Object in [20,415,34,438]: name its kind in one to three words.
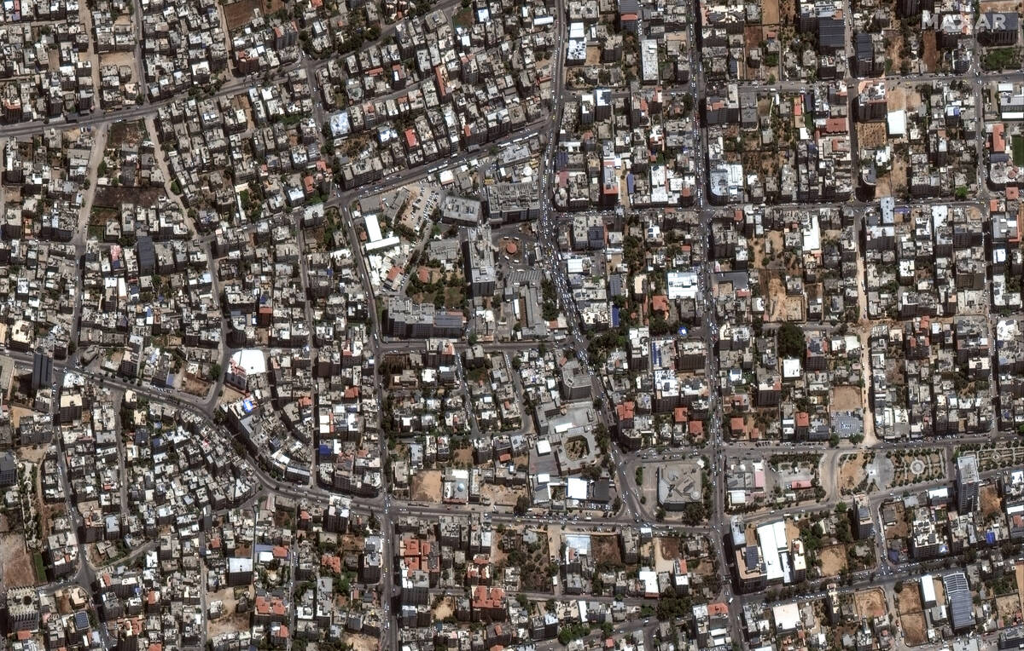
house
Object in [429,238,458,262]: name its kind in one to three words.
house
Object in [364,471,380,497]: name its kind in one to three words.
building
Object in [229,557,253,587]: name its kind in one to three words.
building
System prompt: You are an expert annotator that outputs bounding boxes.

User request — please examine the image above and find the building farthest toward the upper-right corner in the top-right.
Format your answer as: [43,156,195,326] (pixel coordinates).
[981,11,1019,45]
